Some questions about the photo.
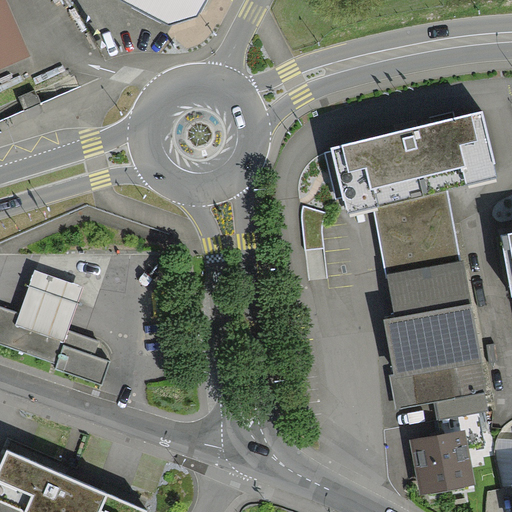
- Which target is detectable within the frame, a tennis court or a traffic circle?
traffic circle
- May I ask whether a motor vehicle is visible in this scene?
Yes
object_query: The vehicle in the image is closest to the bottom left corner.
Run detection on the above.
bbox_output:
[116,385,132,408]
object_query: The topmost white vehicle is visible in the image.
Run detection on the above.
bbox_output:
[101,30,118,56]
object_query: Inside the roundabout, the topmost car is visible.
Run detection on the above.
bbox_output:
[232,106,245,130]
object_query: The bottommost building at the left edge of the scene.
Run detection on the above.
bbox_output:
[0,450,146,512]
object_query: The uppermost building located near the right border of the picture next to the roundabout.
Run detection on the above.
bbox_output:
[324,110,497,223]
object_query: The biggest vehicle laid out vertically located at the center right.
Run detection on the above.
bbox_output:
[472,276,486,306]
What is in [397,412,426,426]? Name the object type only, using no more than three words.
vehicle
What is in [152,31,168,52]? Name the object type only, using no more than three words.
car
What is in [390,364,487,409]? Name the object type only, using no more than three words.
building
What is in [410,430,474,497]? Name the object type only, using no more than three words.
house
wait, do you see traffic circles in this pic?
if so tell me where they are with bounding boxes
[128,63,270,205]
